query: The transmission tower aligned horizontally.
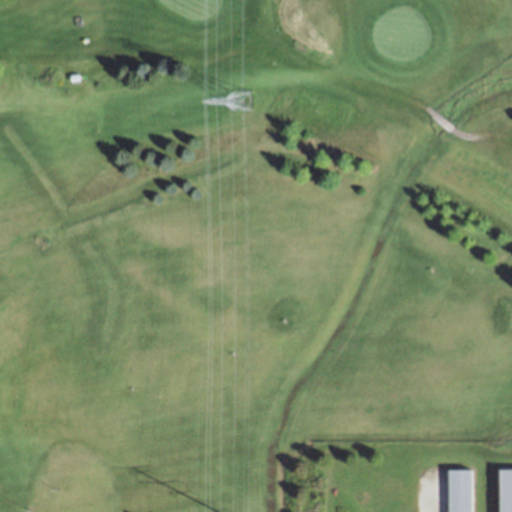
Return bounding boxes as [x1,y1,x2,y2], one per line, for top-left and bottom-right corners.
[204,92,252,110]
